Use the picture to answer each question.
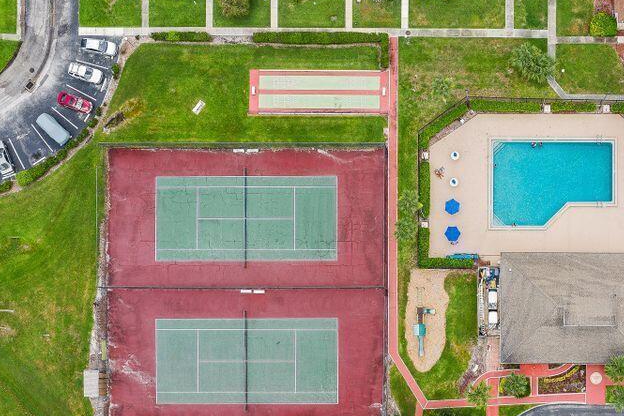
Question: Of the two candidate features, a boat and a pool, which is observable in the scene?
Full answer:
I can see a pool in this picture.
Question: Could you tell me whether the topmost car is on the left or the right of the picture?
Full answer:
It is on the left.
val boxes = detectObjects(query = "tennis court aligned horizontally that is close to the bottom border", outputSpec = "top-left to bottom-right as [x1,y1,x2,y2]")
[107,290,384,416]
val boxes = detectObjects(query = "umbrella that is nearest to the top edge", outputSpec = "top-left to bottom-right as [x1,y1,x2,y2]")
[445,198,459,214]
